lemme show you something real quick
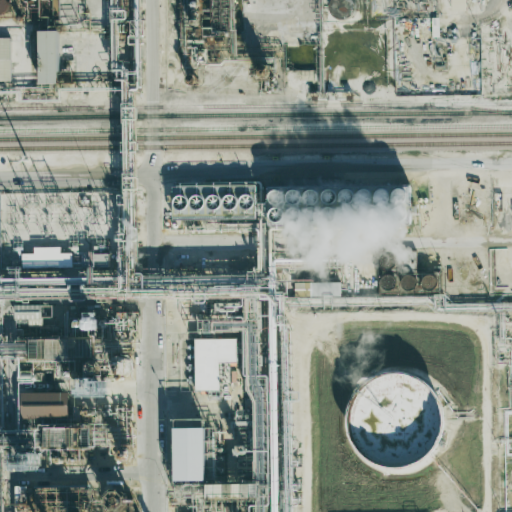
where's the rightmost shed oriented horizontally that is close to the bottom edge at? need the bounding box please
[204,484,248,496]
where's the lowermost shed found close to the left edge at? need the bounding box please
[20,392,68,419]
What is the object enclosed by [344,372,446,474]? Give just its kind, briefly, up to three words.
storage tank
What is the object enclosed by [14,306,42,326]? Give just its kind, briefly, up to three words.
building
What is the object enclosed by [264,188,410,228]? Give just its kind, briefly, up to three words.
cooling tower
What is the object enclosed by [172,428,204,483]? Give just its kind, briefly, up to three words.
shed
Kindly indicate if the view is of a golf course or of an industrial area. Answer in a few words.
industrial area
